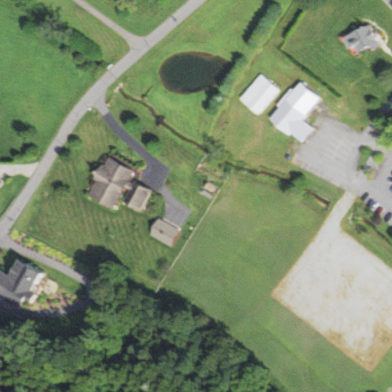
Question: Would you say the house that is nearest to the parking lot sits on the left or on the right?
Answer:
right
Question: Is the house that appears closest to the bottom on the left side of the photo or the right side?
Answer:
left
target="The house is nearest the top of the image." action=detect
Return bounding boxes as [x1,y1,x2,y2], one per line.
[338,25,382,57]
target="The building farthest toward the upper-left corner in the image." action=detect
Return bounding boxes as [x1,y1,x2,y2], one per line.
[89,160,136,211]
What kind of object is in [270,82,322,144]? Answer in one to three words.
house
